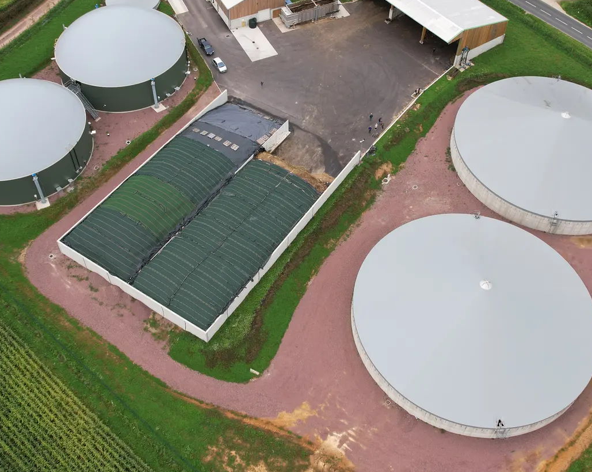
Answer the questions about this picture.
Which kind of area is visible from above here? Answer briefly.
industrial area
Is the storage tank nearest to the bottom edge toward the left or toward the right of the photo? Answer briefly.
right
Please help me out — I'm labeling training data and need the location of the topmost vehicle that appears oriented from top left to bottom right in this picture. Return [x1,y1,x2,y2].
[196,36,216,55]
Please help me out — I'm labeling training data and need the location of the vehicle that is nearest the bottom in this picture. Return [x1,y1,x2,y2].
[212,57,228,73]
